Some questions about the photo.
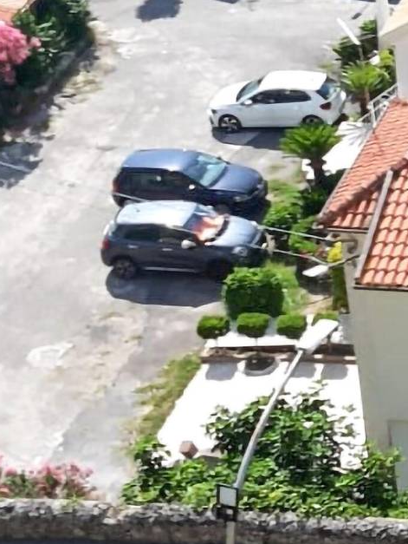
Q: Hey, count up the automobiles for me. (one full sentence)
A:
The count of automobiles comes to 3.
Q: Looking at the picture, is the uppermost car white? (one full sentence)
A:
Yes, white is the color of the uppermost car.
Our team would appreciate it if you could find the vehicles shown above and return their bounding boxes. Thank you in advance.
[205,65,343,134]
[96,195,267,279]
[121,141,276,213]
